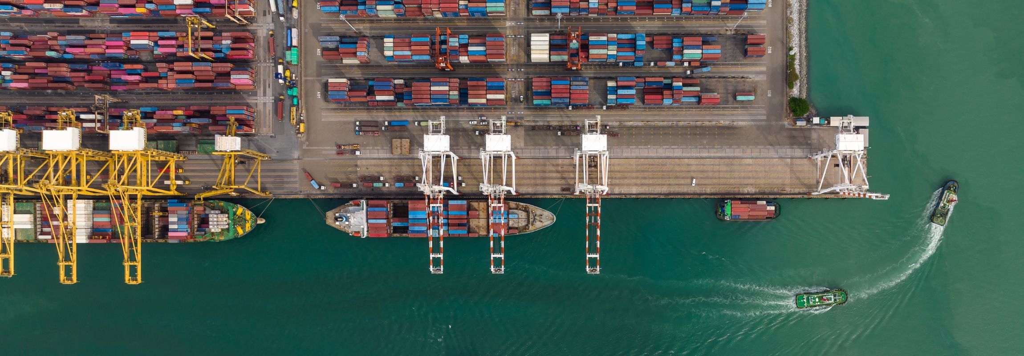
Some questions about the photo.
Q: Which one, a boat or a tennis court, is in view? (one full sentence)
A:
This aerial view contains a boat.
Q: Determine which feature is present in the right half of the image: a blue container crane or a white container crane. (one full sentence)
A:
The one visible in the right half of the image is a white container crane.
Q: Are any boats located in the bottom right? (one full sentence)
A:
Yes, looking in the bottom right, one can make out a boat.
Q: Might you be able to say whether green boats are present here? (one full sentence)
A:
Yes, you can see a green boat in this photo.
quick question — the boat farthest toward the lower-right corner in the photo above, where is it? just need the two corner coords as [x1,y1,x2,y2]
[930,180,957,227]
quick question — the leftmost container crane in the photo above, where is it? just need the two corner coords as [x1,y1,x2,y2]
[0,112,74,285]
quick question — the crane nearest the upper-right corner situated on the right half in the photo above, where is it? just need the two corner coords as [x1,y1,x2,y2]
[801,112,891,200]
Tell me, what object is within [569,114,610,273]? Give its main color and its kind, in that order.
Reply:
white container crane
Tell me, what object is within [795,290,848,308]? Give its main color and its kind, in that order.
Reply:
green boat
